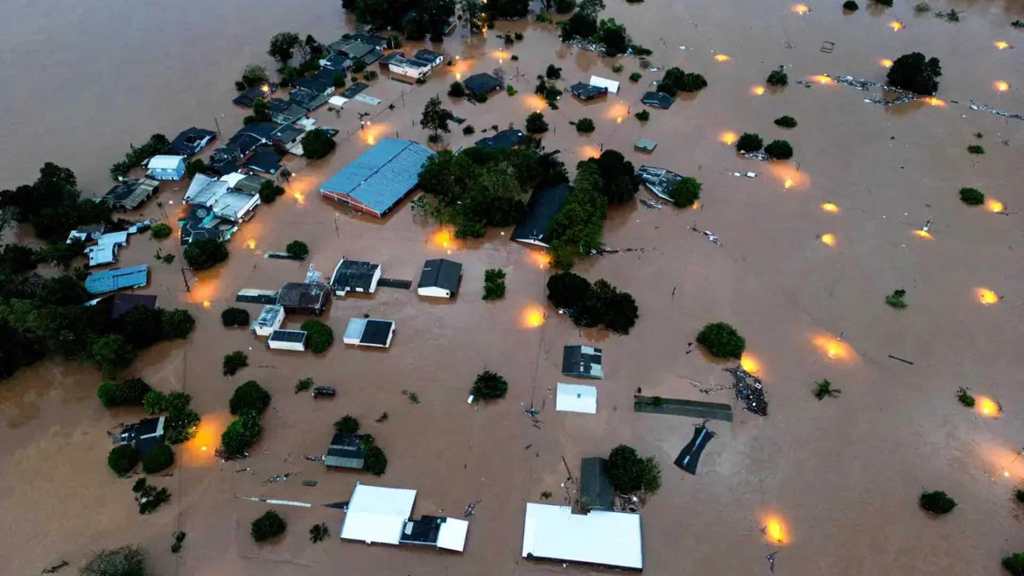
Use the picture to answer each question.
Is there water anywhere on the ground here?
Yes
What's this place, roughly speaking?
residential area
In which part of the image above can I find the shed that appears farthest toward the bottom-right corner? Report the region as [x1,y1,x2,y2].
[635,395,733,422]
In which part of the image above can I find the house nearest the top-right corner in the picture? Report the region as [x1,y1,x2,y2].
[641,91,675,112]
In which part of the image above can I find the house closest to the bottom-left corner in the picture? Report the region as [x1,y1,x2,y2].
[107,417,166,464]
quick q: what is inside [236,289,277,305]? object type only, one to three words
shed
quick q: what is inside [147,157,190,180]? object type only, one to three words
house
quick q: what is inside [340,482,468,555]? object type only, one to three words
building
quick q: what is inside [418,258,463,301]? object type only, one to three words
house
